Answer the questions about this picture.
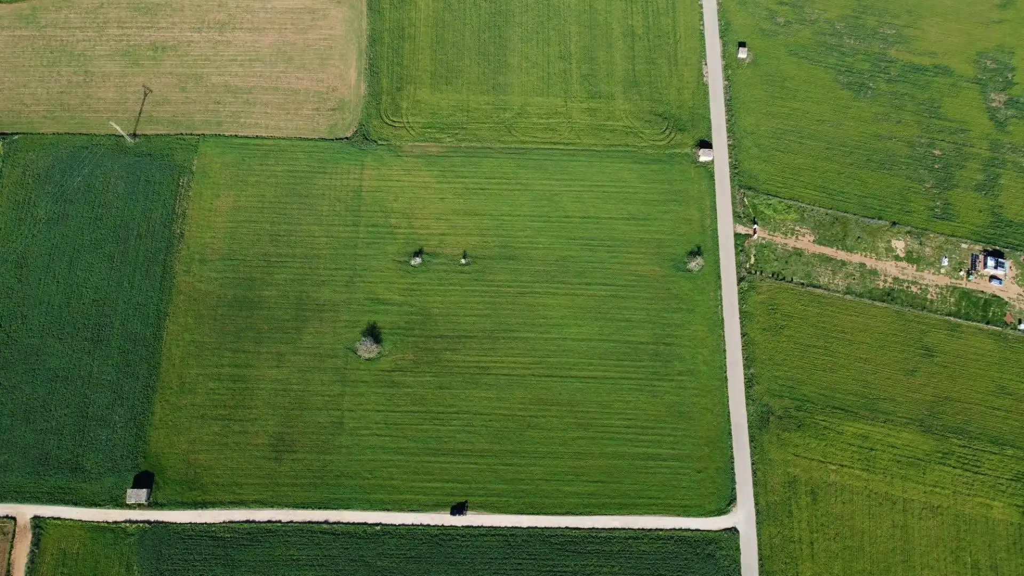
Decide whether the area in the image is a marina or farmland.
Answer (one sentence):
This image shows farmland.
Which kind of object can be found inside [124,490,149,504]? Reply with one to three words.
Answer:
barn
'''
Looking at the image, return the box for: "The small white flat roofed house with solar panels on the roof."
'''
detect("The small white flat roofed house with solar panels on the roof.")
[977,257,1011,279]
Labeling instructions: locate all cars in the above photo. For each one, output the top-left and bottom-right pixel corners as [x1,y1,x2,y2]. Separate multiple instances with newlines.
[992,279,1005,287]
[450,509,467,516]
